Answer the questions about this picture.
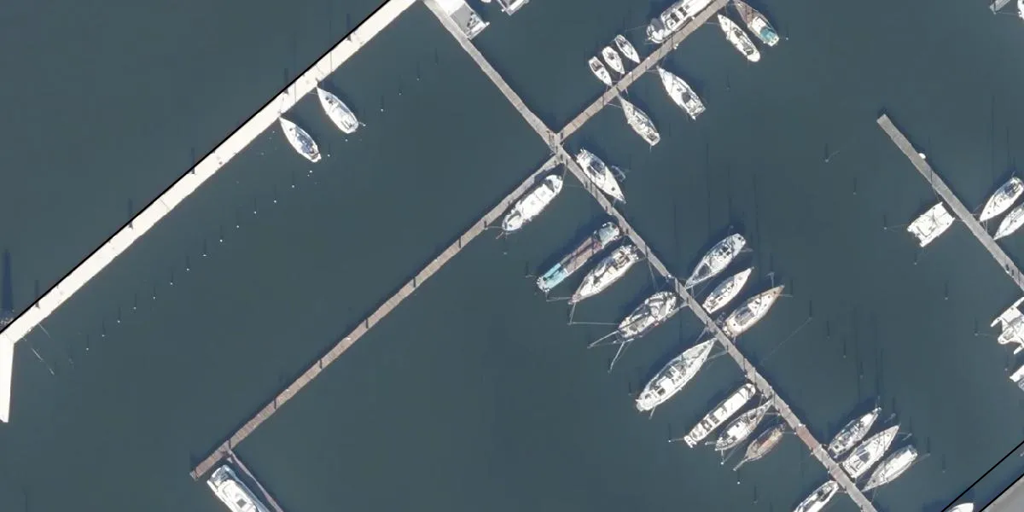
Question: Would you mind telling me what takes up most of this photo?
water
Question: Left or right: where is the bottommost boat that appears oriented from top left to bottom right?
left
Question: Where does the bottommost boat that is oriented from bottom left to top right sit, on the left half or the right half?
right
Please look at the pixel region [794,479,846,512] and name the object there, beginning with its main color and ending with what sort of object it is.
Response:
white boat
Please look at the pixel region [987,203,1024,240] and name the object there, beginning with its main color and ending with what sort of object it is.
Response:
white boat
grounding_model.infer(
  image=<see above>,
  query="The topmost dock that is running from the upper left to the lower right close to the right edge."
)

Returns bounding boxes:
[877,115,1024,290]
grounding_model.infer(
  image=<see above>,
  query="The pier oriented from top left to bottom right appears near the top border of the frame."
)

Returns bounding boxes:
[424,0,557,145]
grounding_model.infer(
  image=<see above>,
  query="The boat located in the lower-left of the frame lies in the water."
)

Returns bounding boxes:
[206,464,273,512]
